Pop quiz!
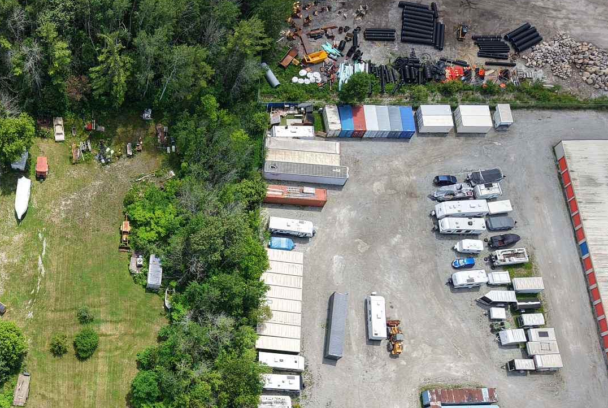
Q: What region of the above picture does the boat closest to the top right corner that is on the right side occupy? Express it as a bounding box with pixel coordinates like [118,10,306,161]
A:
[465,168,504,183]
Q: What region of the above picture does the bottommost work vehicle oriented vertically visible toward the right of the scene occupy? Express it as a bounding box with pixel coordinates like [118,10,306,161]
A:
[386,322,404,355]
